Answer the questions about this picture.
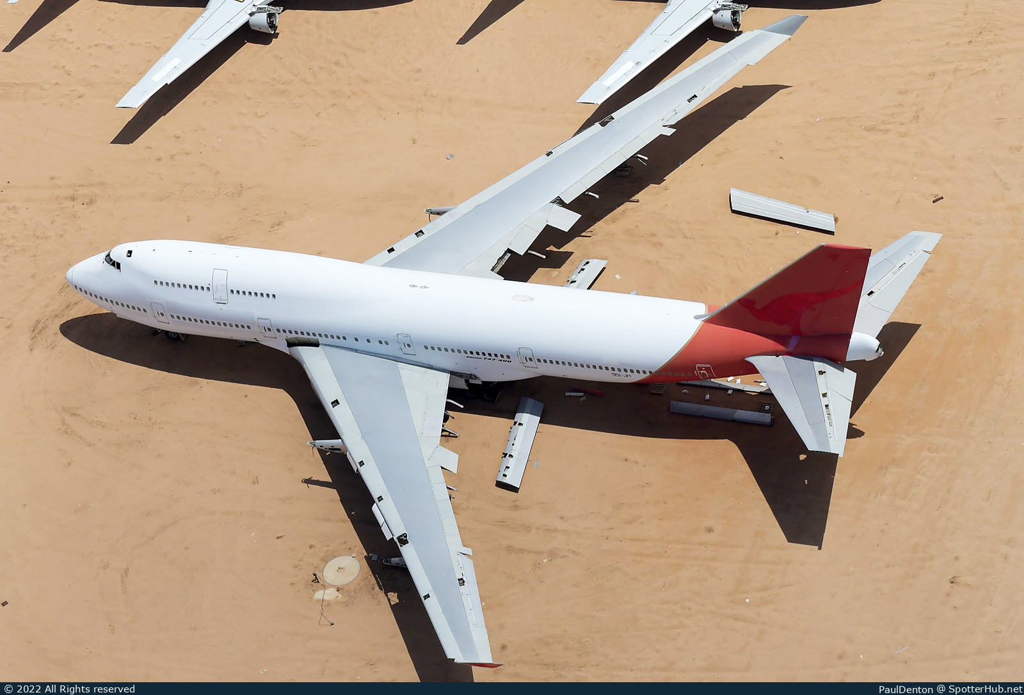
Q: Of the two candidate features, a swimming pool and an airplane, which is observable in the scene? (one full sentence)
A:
This aerial view contains an airplane.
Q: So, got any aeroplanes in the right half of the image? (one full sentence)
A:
Yes, an aeroplane is visible in the right half of the image.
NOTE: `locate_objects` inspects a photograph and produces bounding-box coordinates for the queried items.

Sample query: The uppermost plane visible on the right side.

[579,0,754,102]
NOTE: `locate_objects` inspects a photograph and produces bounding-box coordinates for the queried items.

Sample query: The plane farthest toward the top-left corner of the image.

[115,0,290,107]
